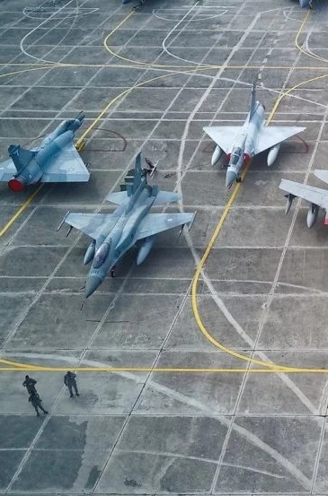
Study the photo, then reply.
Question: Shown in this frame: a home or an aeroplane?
aeroplane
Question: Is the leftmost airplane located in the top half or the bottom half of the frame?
top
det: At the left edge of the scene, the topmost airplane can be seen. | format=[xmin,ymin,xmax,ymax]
[0,114,90,201]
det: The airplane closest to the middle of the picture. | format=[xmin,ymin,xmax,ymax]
[56,152,198,303]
